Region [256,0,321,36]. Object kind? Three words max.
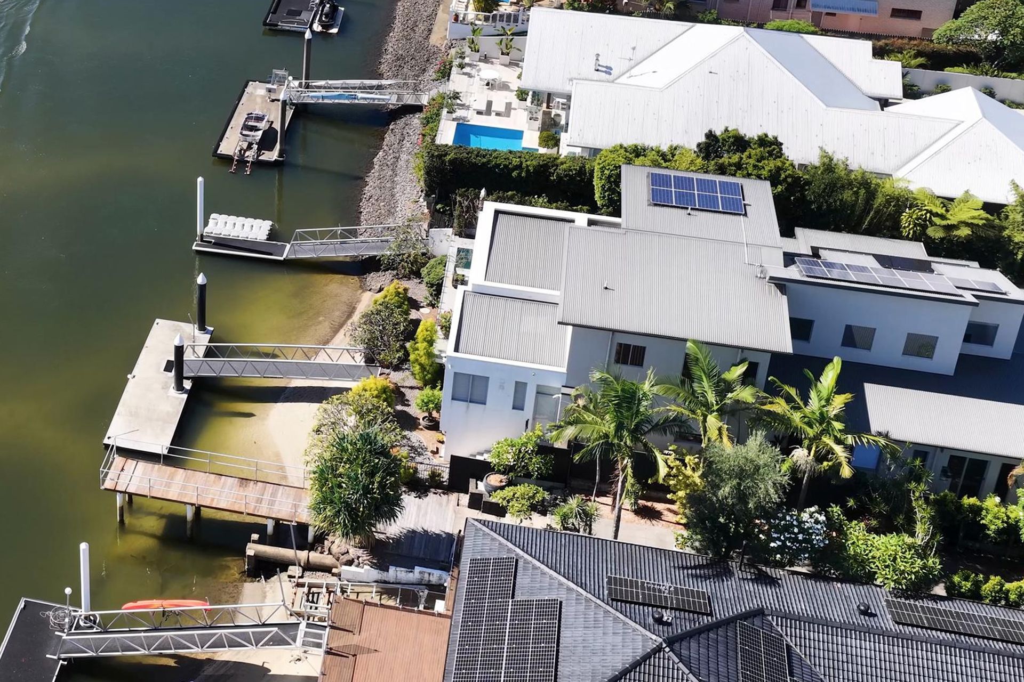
pier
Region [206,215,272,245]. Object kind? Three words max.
pier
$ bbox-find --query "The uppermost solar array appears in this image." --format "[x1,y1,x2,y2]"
[651,172,745,214]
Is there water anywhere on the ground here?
Yes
